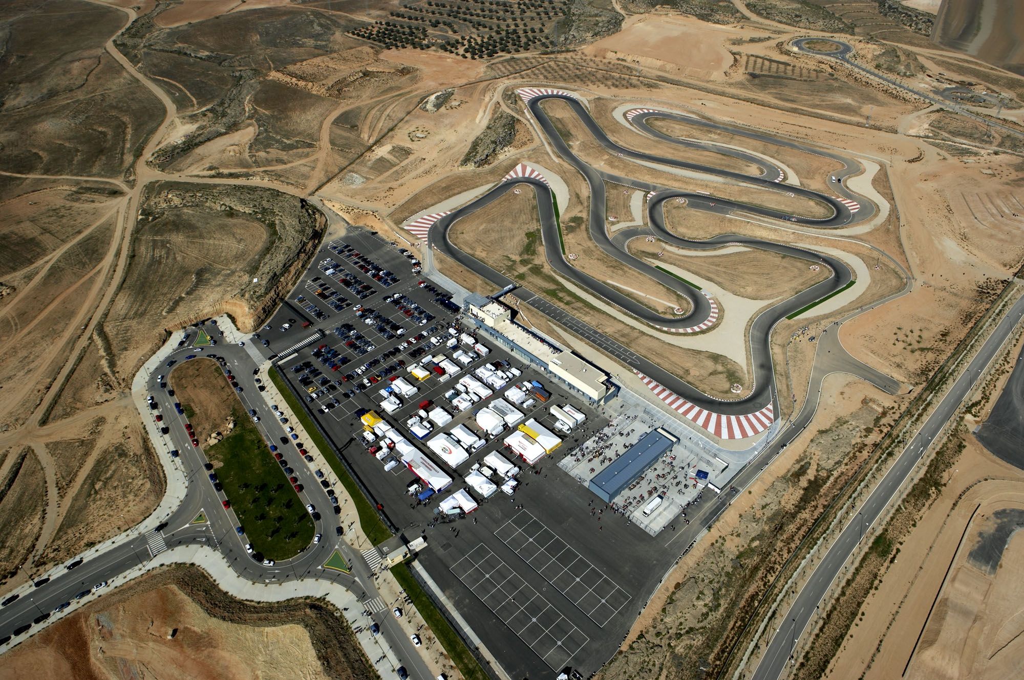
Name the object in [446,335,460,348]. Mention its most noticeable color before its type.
white vehicle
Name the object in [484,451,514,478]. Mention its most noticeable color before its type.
white tent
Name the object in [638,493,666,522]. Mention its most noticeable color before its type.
white truck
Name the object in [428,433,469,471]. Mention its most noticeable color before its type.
white tent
